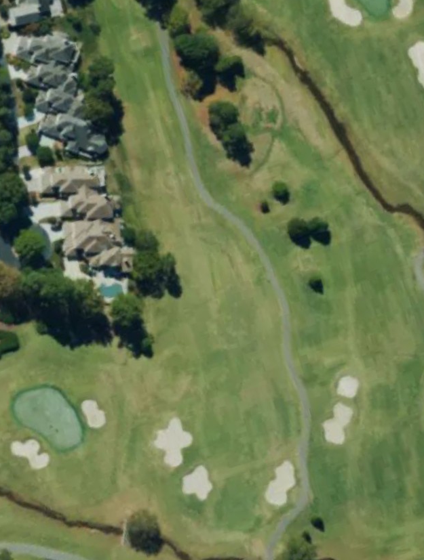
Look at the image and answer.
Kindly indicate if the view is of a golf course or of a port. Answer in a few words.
golf course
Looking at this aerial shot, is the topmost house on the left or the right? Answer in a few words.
left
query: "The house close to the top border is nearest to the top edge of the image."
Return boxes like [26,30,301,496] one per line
[6,0,47,32]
